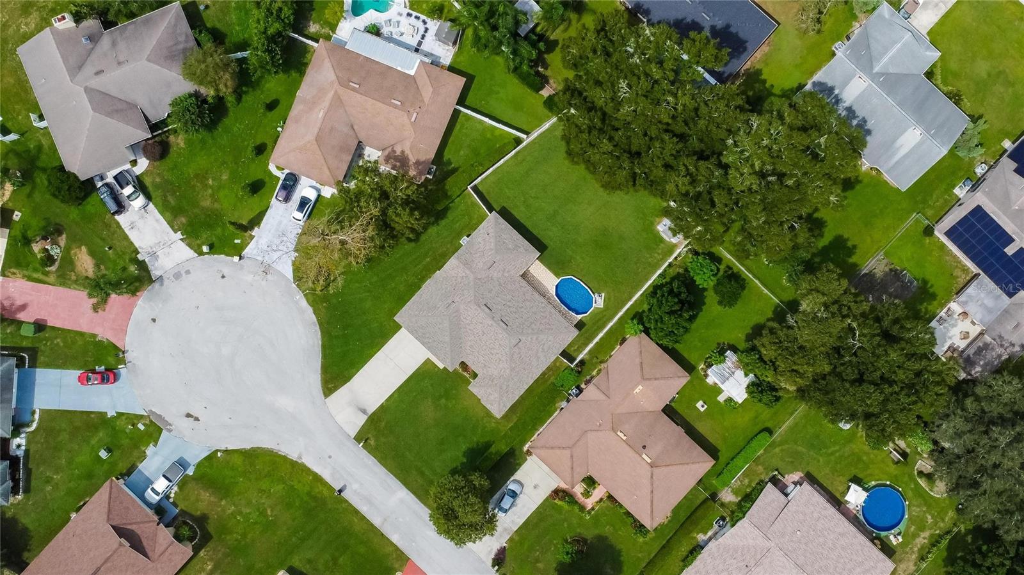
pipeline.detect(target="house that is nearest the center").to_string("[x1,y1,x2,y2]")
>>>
[393,211,579,418]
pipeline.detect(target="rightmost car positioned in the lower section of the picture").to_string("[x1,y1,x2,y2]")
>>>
[497,479,522,517]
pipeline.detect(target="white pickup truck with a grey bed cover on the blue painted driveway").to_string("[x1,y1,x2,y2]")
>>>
[144,460,186,504]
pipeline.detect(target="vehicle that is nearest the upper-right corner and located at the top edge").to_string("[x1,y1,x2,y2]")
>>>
[895,0,922,21]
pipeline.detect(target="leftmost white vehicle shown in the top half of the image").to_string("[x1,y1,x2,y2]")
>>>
[110,168,147,211]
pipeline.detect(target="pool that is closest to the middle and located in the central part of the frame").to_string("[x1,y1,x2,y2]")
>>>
[554,276,594,316]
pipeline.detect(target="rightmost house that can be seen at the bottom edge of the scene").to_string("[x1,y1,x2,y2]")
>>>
[681,481,896,575]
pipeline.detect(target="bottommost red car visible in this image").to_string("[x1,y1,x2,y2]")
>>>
[78,370,117,387]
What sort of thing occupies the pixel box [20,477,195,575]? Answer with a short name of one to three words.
house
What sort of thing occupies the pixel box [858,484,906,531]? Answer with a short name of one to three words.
swimming pool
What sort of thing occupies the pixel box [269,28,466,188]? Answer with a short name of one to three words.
house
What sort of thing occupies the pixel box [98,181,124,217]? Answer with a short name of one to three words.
car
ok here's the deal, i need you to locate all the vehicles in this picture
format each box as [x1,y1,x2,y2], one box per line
[144,460,186,504]
[293,185,318,223]
[78,370,117,387]
[98,181,124,217]
[110,168,147,211]
[497,479,522,517]
[275,170,300,206]
[895,0,922,21]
